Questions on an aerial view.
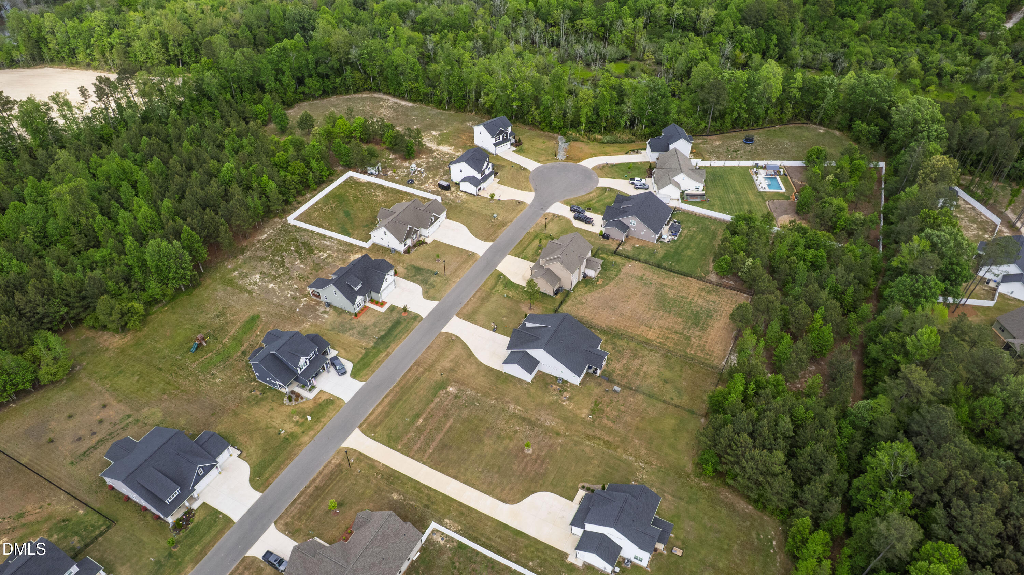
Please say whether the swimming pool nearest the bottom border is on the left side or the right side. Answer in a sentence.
The swimming pool nearest the bottom border appears in the right half of the scene.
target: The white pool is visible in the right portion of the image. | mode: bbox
[750,169,786,192]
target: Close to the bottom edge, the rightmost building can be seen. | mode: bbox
[569,480,674,575]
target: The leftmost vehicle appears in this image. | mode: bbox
[259,547,288,573]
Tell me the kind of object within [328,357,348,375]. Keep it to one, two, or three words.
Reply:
vehicle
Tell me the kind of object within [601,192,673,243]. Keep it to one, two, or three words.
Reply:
house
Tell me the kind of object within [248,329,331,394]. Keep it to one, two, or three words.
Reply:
house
